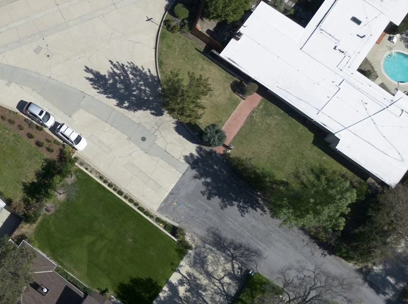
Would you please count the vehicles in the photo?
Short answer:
2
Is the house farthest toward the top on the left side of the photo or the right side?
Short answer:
right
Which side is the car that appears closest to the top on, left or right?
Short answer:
left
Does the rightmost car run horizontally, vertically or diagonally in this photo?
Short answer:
diagonally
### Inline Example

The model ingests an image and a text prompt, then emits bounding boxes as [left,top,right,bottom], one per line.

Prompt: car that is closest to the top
[22,98,58,130]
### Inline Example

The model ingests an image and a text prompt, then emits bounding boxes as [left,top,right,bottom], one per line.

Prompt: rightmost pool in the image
[379,46,408,86]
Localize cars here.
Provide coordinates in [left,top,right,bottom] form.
[22,98,58,130]
[54,120,89,151]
